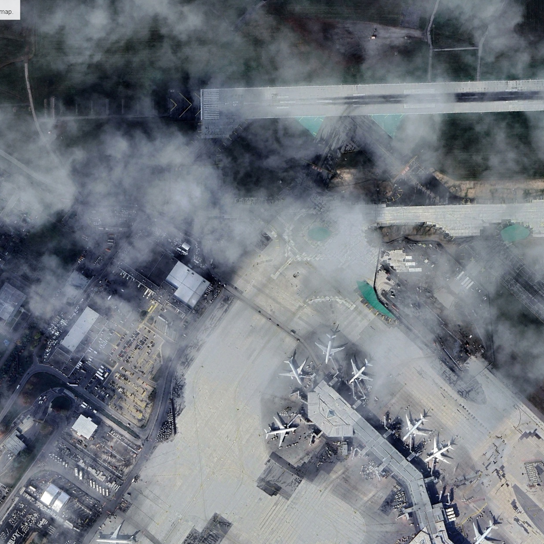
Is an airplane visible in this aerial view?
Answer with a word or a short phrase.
Yes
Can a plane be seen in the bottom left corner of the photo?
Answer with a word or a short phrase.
Yes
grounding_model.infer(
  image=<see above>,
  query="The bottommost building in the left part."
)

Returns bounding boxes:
[40,484,69,513]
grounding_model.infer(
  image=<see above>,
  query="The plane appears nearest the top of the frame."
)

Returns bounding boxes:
[314,333,345,364]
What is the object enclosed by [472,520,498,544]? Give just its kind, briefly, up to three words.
airplane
